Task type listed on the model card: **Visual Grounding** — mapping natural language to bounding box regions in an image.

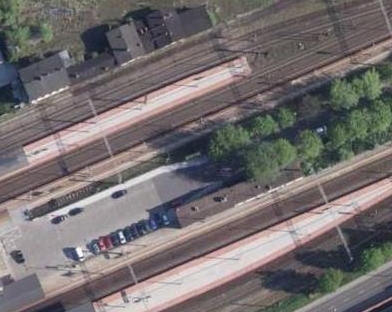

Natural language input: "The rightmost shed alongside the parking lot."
[176,158,301,229]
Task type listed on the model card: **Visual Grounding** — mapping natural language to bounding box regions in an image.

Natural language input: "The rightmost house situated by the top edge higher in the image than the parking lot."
[164,5,213,43]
